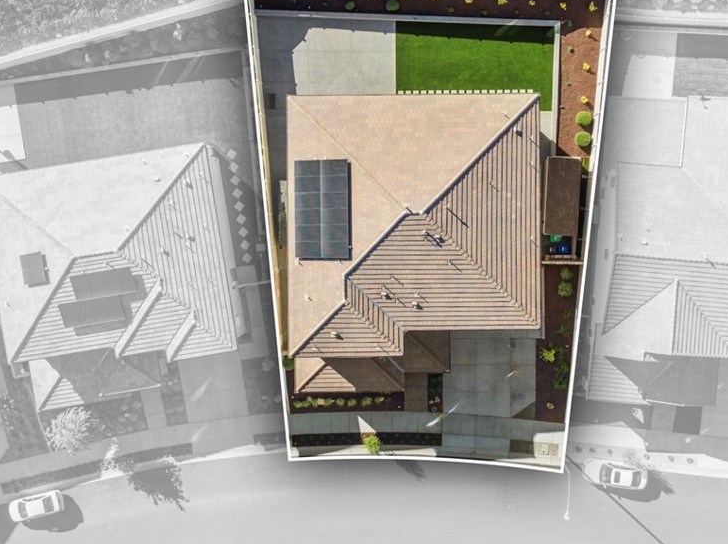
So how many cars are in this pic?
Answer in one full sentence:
I count 2 cars.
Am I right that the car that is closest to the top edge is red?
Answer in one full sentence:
No, the car that is closest to the top edge is actually white.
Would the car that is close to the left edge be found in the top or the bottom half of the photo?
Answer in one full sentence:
The bottom half of the photo is where the car that is close to the left edge is.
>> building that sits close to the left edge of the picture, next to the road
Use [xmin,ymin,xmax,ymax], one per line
[0,142,250,413]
